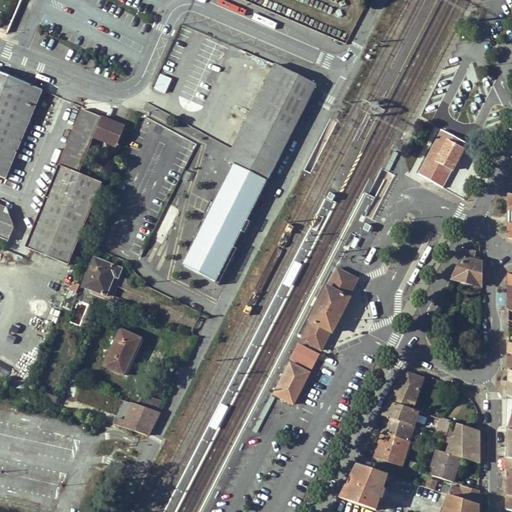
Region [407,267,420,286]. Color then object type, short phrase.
white vehicle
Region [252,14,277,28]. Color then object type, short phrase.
white vehicle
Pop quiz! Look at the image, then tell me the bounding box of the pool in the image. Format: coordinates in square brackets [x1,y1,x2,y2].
[69,300,90,326]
